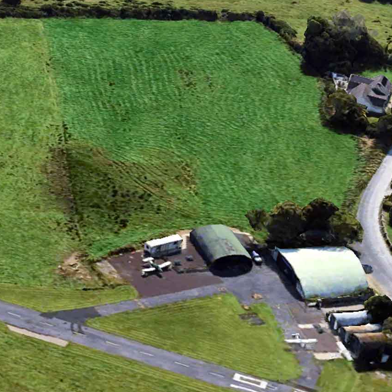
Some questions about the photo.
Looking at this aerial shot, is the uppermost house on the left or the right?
right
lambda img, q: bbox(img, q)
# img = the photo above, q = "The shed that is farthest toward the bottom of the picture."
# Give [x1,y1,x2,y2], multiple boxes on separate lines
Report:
[346,332,392,359]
